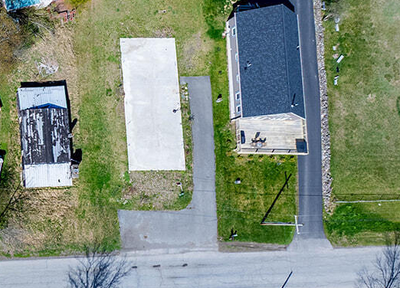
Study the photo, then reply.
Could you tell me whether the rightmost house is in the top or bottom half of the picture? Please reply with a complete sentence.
Seen from above, the rightmost house lies in the top half of the view.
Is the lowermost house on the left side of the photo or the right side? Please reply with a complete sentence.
The lowermost house is on the left side of the image.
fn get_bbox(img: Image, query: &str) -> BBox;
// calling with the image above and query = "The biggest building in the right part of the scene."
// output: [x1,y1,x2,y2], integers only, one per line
[222,8,310,153]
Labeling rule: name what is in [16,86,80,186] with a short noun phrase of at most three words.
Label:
house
